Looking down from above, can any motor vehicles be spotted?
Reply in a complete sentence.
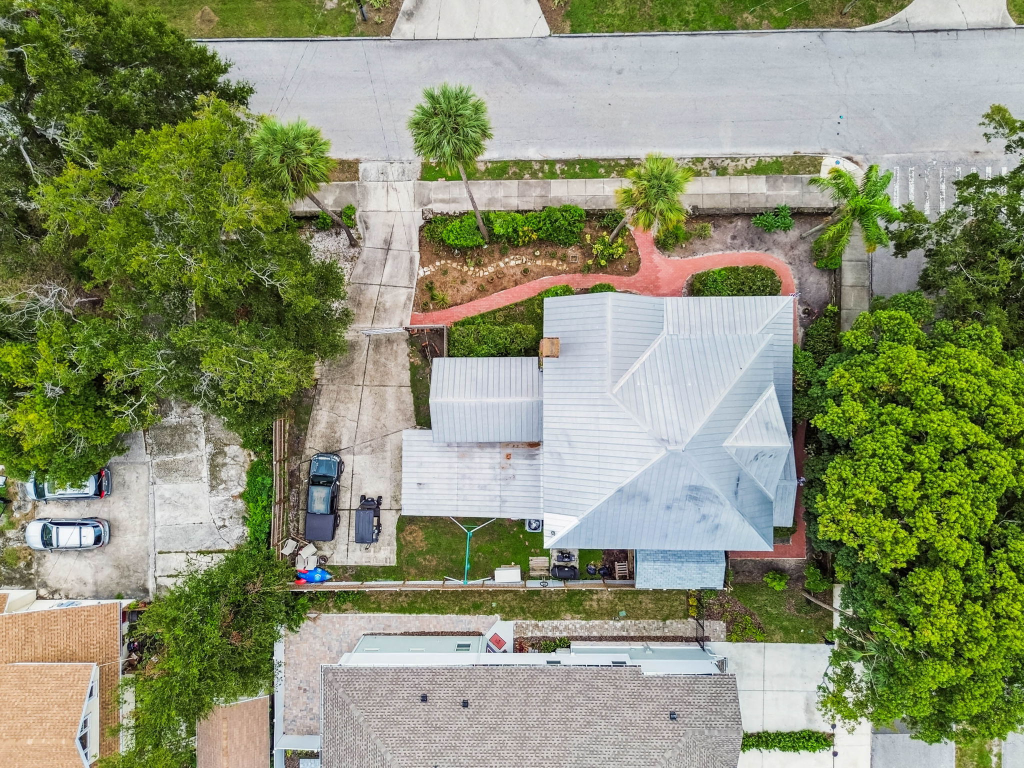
Yes, this view includes a motor vehicle.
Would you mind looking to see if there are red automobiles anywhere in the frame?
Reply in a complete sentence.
No, no red automobile is visible in the scene.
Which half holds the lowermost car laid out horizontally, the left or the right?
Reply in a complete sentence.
The lowermost car laid out horizontally appears in the left half of the scene.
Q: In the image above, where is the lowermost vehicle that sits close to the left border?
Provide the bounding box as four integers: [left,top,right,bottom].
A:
[25,514,113,557]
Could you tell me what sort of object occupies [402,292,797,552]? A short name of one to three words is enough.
house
